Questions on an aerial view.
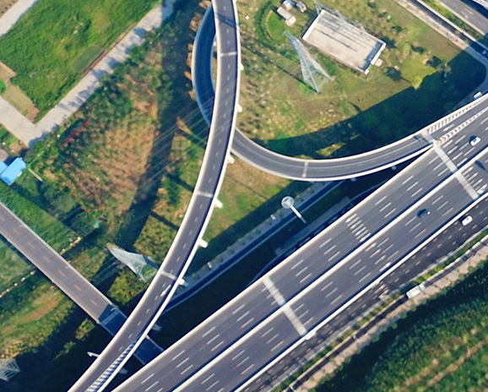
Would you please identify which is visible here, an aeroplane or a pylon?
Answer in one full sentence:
Visible in the photo is a pylon.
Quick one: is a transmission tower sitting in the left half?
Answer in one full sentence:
Yes, a transmission tower can be seen in the left half.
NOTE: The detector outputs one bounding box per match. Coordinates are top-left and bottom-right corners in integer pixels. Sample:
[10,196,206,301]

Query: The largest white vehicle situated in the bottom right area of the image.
[407,285,423,298]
